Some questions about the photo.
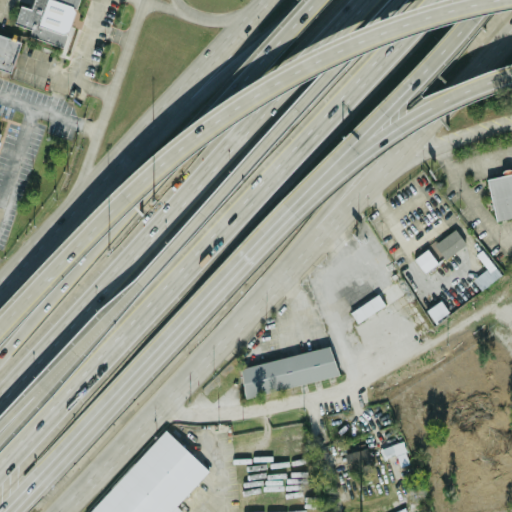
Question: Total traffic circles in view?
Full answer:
There are no traffic circles in the image.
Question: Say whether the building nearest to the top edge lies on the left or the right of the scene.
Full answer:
It is on the left.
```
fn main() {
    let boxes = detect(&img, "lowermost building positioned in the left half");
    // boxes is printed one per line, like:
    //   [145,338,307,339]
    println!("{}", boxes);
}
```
[92,432,210,512]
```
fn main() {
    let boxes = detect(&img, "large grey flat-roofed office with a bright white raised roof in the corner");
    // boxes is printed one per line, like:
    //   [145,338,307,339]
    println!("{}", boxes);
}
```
[16,0,80,48]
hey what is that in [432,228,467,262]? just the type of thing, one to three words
house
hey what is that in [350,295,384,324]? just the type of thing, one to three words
shed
